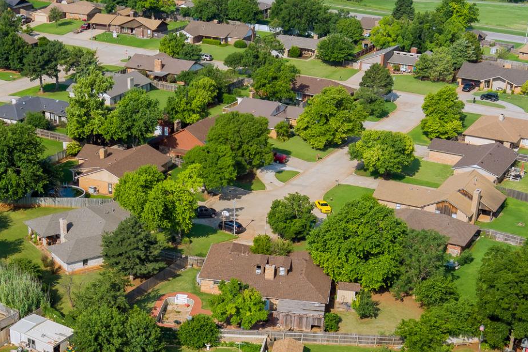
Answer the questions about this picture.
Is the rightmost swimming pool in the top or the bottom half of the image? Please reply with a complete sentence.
You can find the rightmost swimming pool in the bottom half.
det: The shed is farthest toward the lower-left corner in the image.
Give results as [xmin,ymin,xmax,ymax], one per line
[9,315,75,352]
